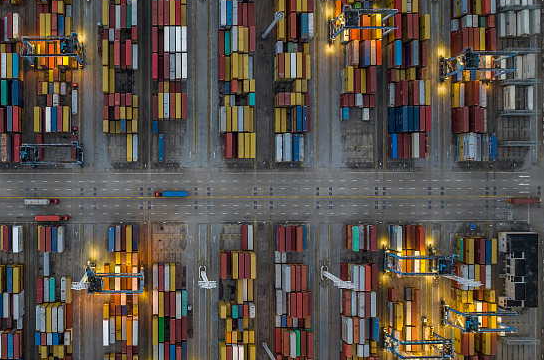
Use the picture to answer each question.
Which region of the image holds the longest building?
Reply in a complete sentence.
Look in the bottom right portion of the view to spot the longest building.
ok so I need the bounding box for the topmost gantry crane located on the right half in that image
[330,2,399,48]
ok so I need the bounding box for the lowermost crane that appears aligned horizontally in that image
[384,323,459,360]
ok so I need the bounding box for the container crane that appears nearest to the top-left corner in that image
[18,30,84,71]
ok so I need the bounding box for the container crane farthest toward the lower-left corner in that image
[84,258,146,296]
